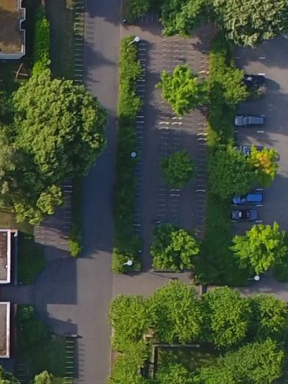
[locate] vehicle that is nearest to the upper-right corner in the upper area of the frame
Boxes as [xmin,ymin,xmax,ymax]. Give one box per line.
[242,73,269,89]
